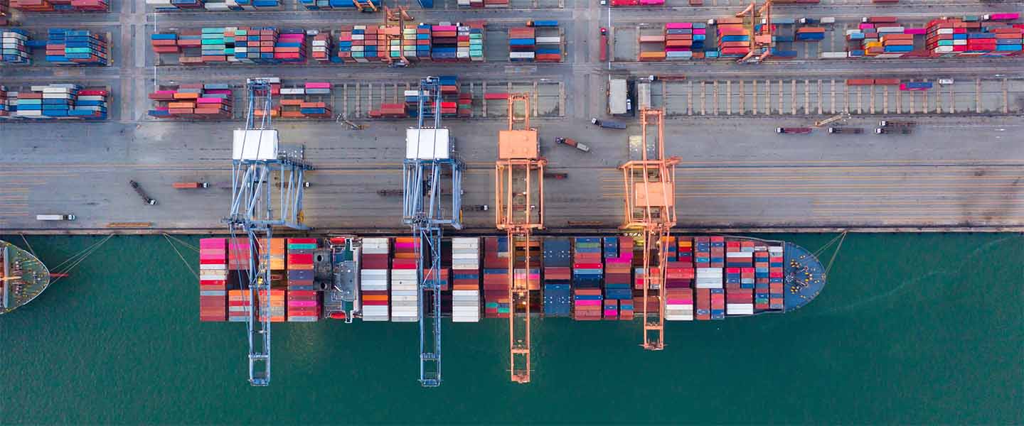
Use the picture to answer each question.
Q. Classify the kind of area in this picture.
port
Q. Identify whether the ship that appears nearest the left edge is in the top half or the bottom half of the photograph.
bottom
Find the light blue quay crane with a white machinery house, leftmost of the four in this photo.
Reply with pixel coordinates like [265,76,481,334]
[224,78,321,387]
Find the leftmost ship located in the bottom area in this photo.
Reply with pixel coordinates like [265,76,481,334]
[0,240,71,314]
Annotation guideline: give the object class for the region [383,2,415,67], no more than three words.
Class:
crane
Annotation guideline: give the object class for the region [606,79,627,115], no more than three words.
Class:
shed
